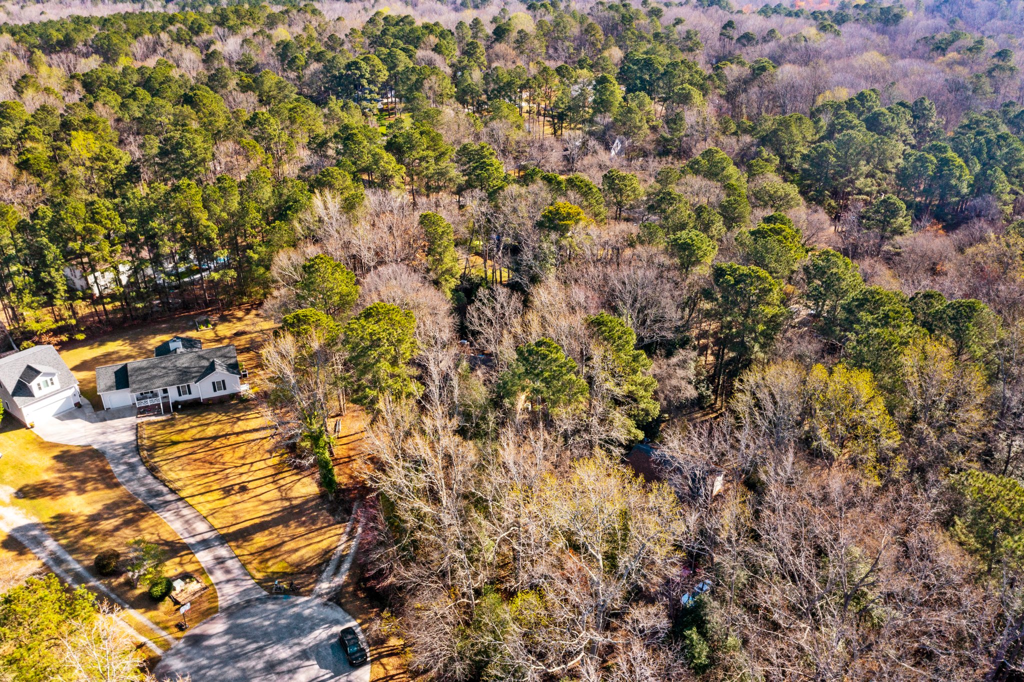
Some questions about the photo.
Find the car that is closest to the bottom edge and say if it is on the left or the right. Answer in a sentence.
The car that is closest to the bottom edge is on the left side of the image.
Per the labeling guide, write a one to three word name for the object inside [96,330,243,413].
house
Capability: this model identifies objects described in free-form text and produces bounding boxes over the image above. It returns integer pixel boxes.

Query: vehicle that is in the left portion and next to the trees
[337,623,368,670]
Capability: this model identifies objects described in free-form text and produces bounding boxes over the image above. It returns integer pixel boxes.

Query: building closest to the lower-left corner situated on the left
[0,340,82,426]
